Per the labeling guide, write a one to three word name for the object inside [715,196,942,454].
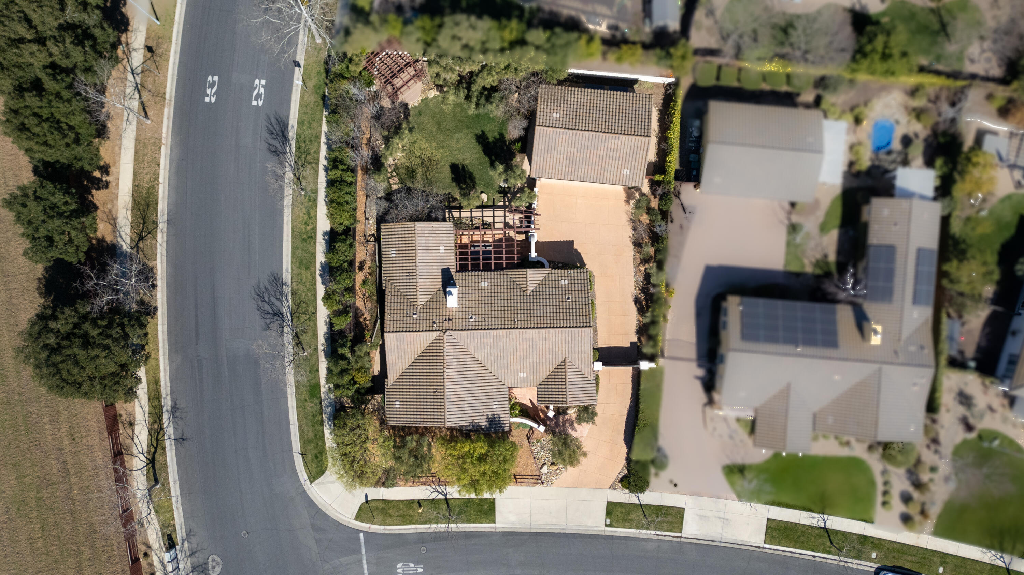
house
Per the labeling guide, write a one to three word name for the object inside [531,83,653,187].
building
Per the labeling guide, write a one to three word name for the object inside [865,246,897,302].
solar panel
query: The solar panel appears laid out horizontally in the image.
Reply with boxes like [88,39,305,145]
[740,297,841,348]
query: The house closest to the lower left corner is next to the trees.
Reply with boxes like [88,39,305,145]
[380,221,597,431]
